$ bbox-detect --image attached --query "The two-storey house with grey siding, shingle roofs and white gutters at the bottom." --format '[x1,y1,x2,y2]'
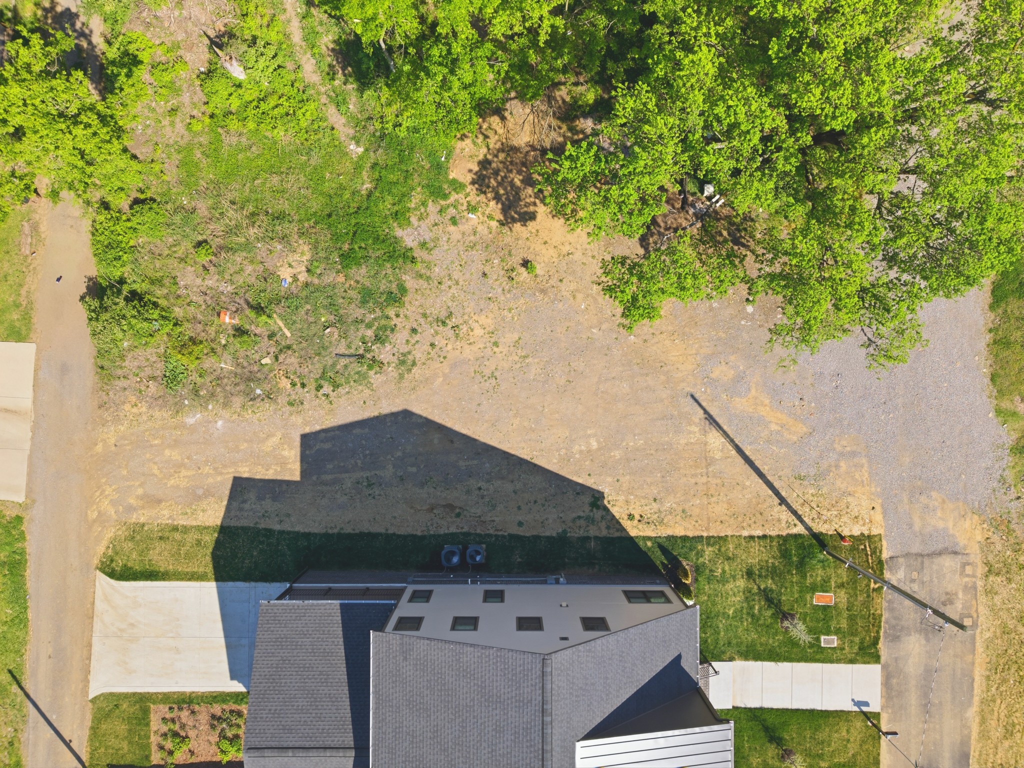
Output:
[246,570,736,768]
